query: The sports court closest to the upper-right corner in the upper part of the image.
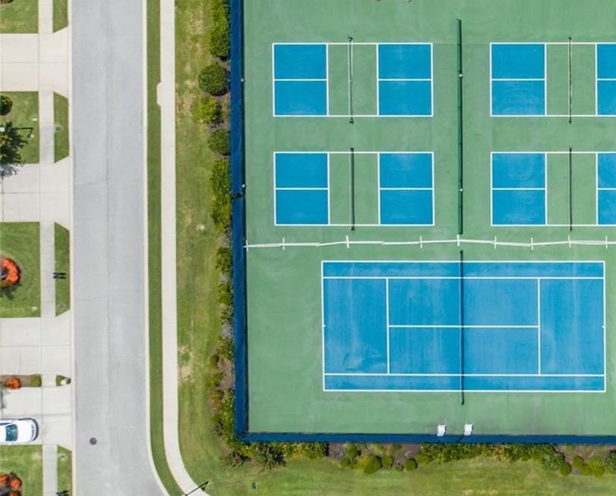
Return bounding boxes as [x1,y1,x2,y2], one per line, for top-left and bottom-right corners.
[490,38,616,121]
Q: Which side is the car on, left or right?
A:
left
